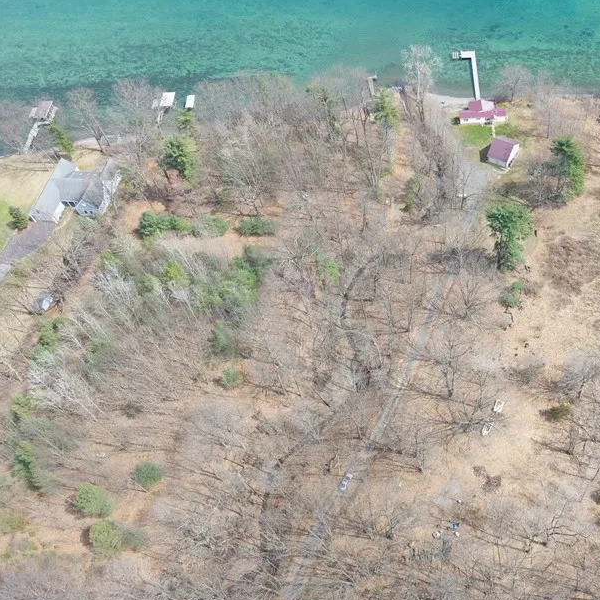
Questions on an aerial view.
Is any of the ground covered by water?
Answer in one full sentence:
Yes, there's water in this view.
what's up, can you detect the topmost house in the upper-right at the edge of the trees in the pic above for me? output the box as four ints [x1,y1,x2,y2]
[459,94,507,128]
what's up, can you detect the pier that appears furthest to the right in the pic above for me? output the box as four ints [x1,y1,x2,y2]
[461,53,480,96]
